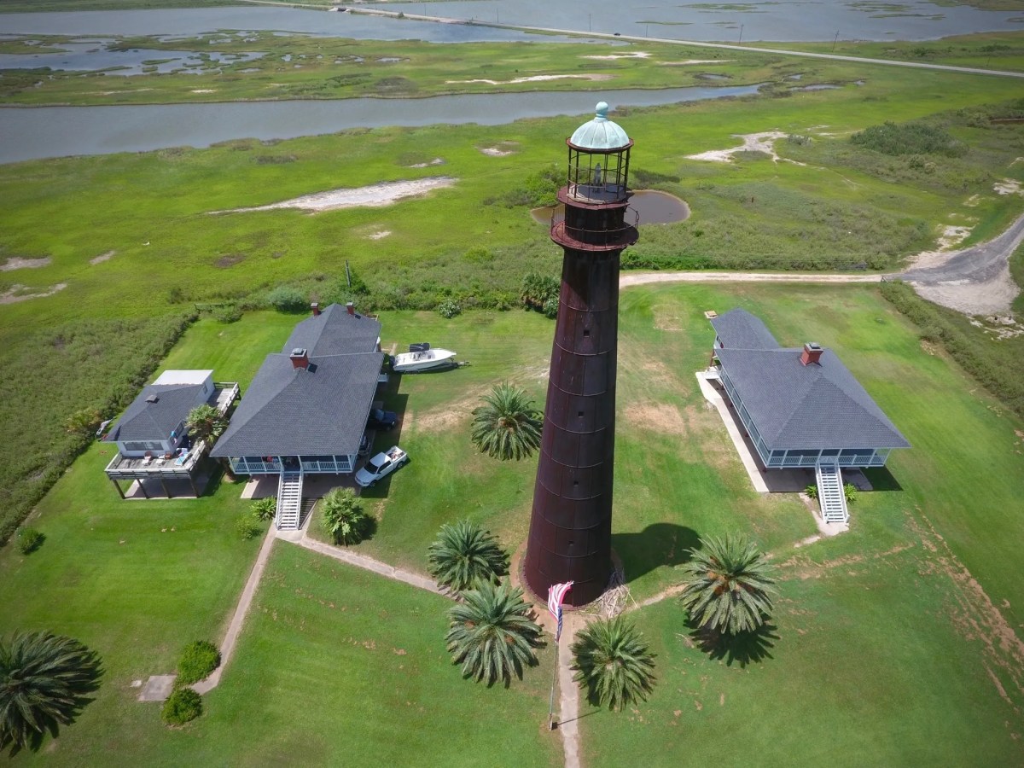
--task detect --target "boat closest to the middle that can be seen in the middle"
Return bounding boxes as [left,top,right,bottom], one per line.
[388,342,453,373]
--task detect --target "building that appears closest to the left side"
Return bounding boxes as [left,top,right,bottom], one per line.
[100,367,245,499]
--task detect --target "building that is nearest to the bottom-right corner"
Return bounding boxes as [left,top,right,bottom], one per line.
[701,304,912,523]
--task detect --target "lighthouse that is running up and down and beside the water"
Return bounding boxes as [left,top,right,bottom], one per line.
[519,98,638,627]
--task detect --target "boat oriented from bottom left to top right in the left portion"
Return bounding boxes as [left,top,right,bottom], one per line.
[94,418,115,435]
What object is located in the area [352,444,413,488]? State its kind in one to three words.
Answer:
truck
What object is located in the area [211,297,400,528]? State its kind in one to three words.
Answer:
house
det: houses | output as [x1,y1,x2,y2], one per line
[701,304,912,523]
[100,367,245,499]
[211,297,400,528]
